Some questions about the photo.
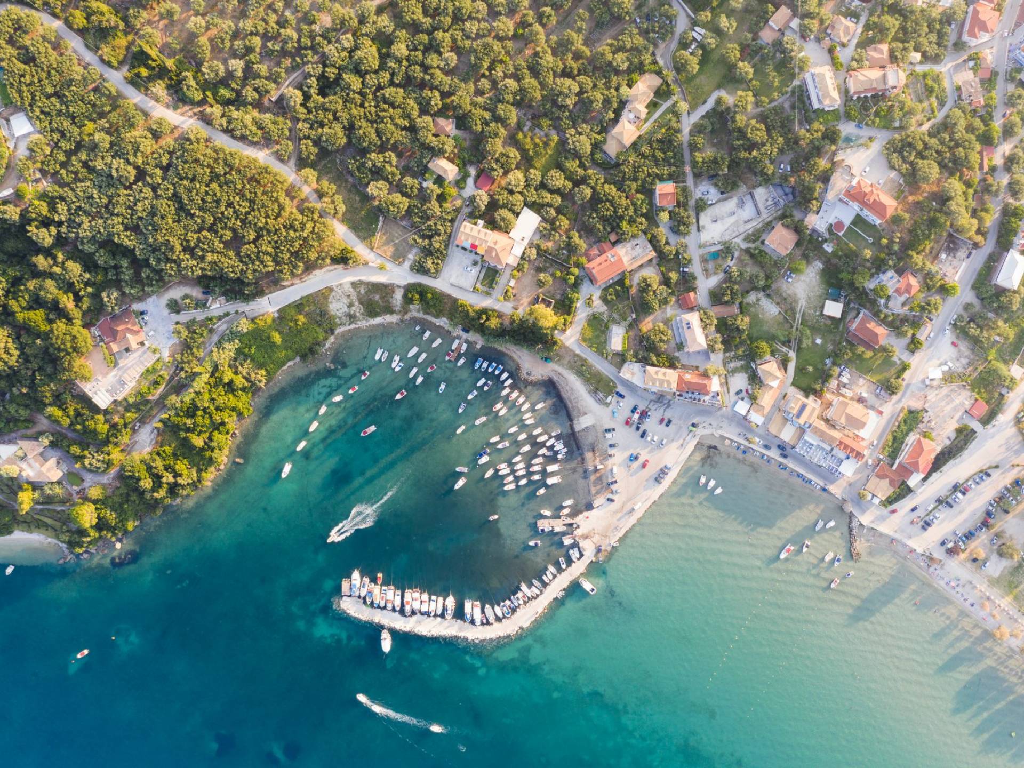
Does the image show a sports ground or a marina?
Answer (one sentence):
What you see here is a marina.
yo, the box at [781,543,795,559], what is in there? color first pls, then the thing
white boat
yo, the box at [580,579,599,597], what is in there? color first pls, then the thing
white boat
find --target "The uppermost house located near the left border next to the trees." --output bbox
[2,110,36,148]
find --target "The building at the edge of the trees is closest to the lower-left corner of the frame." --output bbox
[0,439,70,482]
